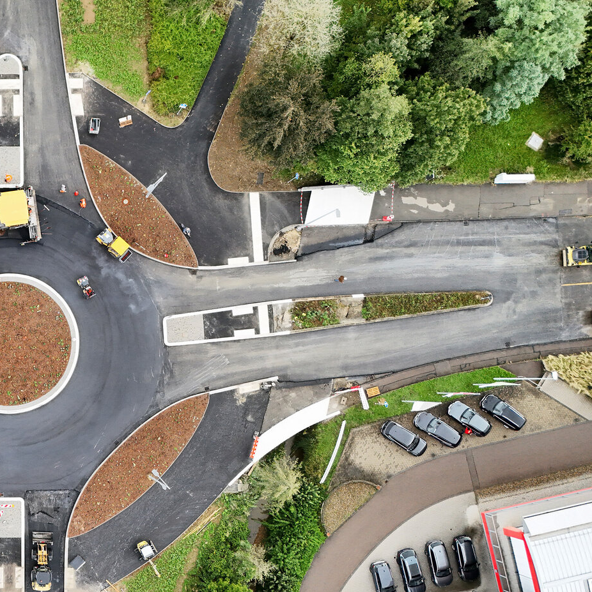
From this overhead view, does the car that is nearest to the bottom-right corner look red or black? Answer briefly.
black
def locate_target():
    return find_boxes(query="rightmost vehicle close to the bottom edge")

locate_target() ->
[452,532,483,581]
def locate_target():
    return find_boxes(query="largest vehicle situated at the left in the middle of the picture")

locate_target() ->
[93,225,139,267]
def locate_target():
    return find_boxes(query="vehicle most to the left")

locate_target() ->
[31,536,54,592]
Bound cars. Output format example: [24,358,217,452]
[368,557,399,592]
[379,418,425,458]
[442,399,496,440]
[422,537,454,587]
[477,392,531,434]
[394,545,427,592]
[410,412,465,452]
[452,532,483,581]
